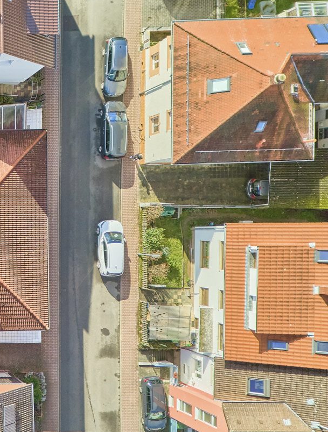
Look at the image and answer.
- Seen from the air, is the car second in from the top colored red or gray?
gray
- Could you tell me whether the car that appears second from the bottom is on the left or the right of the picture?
left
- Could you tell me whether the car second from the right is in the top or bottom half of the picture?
bottom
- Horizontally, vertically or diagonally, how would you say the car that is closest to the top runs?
vertically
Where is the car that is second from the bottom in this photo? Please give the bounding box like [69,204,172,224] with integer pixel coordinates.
[96,220,126,277]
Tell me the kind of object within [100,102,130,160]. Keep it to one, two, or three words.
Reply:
car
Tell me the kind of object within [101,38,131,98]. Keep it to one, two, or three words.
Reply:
car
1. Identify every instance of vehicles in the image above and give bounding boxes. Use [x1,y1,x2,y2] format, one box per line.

[240,179,267,199]
[96,220,126,277]
[100,102,130,160]
[101,38,131,98]
[138,375,170,432]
